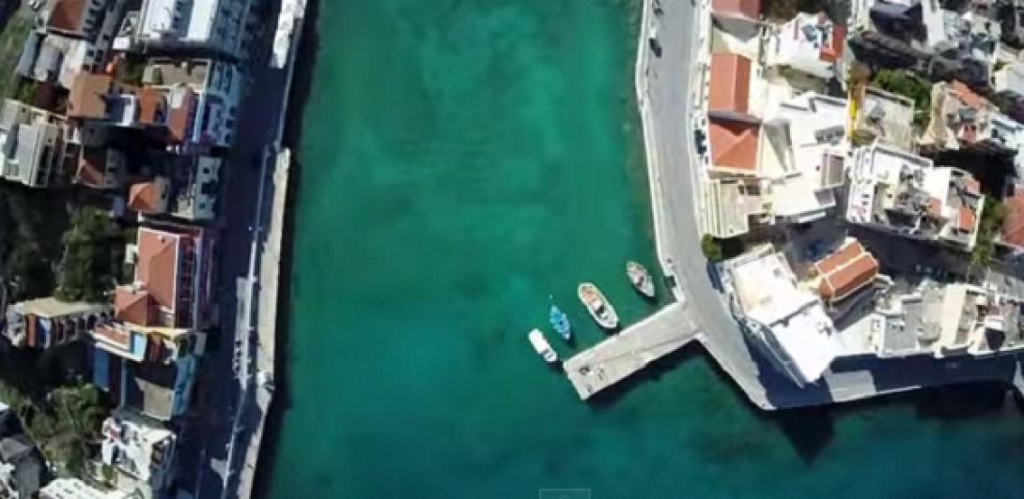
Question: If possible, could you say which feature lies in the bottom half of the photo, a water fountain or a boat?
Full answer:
The feature located in the bottom half of the photo is a boat.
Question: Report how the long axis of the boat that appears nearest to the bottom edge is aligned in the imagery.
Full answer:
The boat that appears nearest to the bottom edge runs at an angle in the image.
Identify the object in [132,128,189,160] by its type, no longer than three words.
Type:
house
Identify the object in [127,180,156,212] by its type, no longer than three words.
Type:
house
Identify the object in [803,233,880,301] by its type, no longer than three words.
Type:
building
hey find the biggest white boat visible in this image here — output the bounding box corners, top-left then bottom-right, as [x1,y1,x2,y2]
[581,284,616,328]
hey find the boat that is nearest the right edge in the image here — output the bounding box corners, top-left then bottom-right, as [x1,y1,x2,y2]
[629,263,656,299]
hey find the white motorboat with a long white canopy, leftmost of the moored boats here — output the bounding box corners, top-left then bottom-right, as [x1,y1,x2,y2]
[526,326,557,363]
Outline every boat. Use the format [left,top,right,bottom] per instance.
[629,263,656,299]
[550,306,569,340]
[581,284,616,328]
[526,326,557,363]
